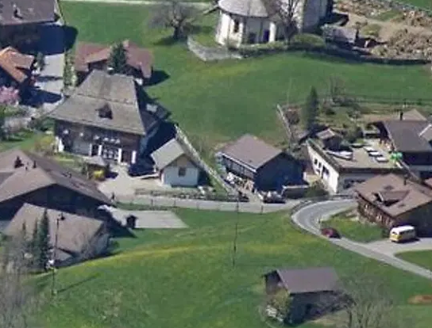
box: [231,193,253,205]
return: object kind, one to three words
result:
vehicle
